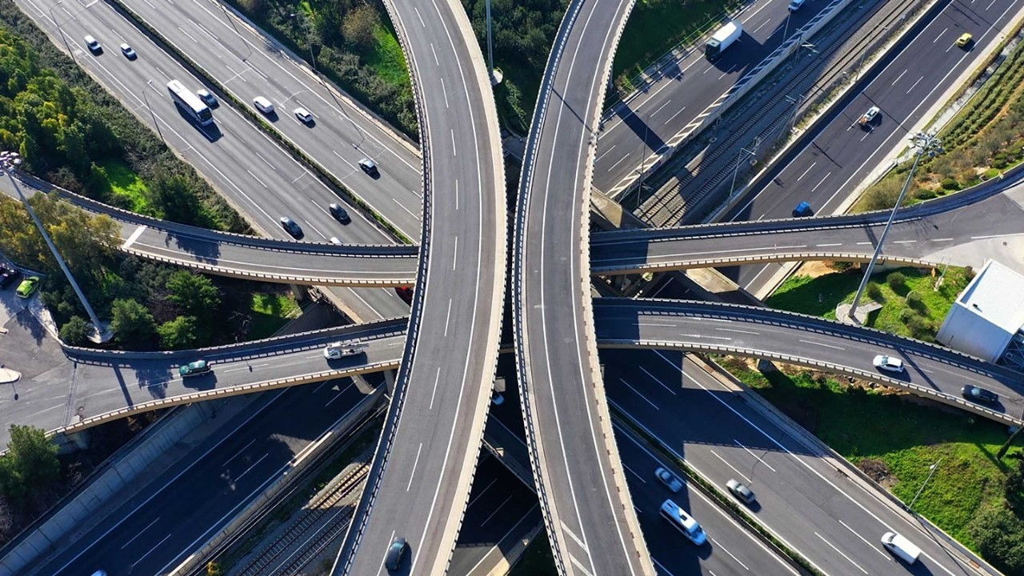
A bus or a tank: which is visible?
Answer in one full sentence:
It is a bus that can be seen here.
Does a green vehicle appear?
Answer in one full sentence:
Yes, a green vehicle appears in the view.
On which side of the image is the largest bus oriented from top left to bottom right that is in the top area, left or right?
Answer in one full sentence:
It is on the left.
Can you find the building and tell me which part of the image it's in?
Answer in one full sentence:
The building is located in the right region of the scene.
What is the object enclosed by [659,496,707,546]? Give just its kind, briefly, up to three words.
vehicle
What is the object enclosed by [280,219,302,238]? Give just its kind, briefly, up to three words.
car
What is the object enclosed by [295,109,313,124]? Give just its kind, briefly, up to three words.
car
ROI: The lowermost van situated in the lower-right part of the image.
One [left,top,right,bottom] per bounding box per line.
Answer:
[880,532,924,568]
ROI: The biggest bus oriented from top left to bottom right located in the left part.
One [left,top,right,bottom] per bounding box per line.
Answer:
[167,79,216,124]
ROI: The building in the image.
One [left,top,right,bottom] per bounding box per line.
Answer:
[935,262,1024,365]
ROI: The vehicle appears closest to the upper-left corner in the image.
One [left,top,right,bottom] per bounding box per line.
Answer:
[84,34,102,51]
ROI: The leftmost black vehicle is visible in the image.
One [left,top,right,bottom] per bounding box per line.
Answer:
[0,264,21,287]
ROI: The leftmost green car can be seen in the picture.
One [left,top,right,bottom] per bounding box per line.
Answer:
[16,277,40,299]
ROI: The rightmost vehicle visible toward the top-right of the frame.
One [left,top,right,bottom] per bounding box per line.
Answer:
[957,35,972,47]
